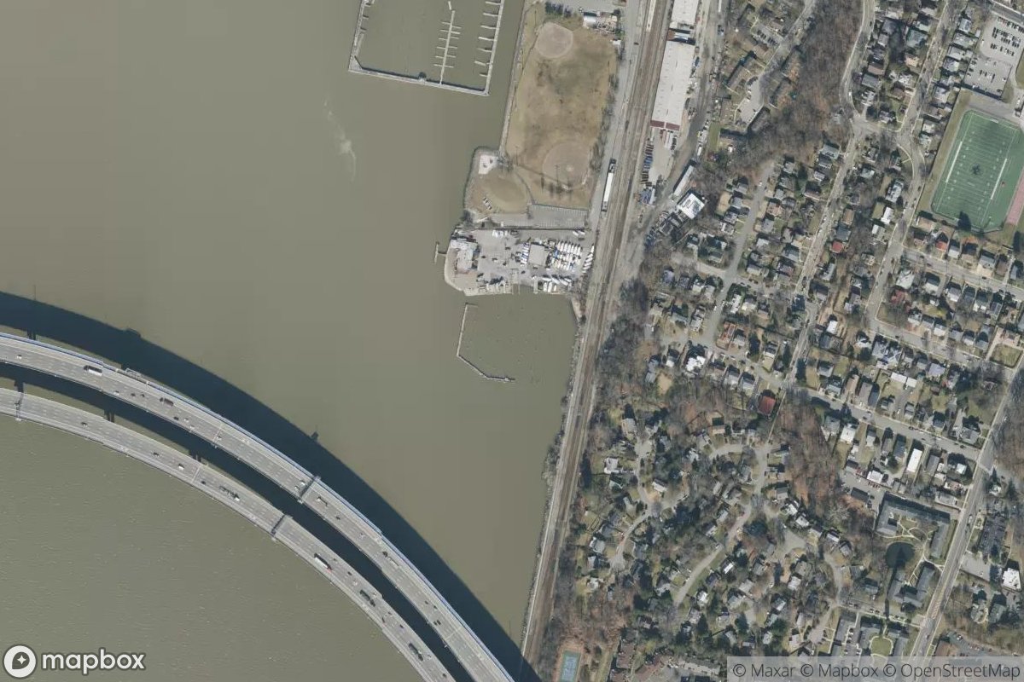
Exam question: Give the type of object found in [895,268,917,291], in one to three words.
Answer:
house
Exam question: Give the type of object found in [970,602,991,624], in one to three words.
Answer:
house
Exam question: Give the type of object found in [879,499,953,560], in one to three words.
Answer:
building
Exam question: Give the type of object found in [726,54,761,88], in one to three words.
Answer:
building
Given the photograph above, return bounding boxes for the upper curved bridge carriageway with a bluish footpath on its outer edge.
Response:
[0,333,509,682]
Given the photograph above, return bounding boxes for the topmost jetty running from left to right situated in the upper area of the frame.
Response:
[348,67,490,96]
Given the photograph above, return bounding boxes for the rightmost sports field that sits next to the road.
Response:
[932,110,1024,231]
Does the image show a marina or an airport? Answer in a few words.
marina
